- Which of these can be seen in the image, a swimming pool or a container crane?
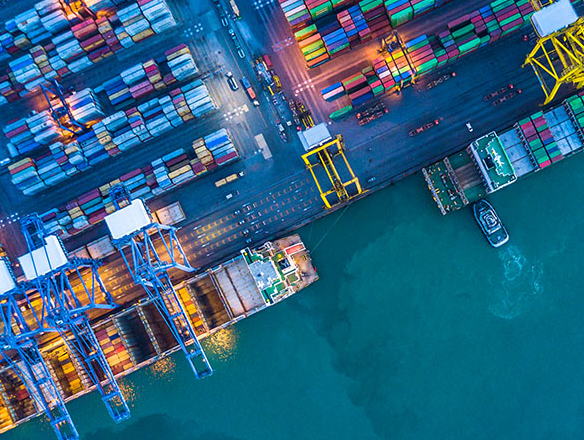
container crane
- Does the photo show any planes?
No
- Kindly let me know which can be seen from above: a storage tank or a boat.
boat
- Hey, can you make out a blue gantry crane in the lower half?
Yes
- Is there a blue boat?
Yes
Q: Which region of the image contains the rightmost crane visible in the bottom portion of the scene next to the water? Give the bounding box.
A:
[104,183,213,384]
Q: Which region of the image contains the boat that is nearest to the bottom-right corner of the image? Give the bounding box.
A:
[472,200,507,249]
